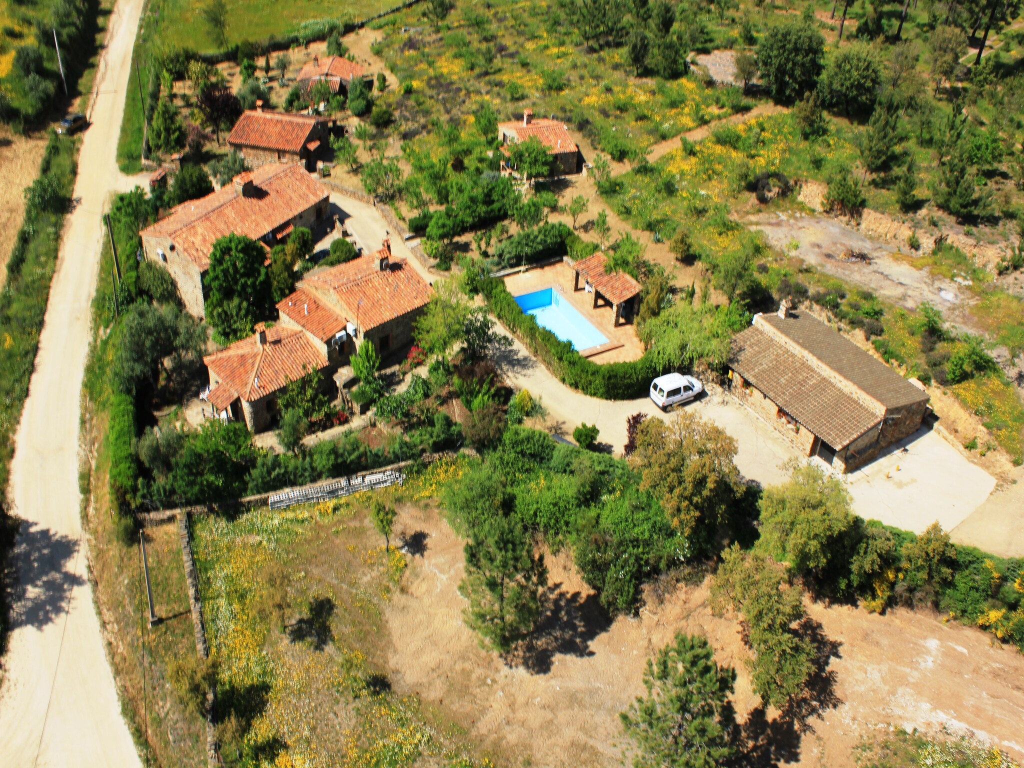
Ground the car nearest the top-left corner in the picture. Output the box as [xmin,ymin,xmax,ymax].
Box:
[52,109,90,135]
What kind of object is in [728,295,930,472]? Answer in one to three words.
barn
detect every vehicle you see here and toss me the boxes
[647,376,706,413]
[52,109,90,135]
